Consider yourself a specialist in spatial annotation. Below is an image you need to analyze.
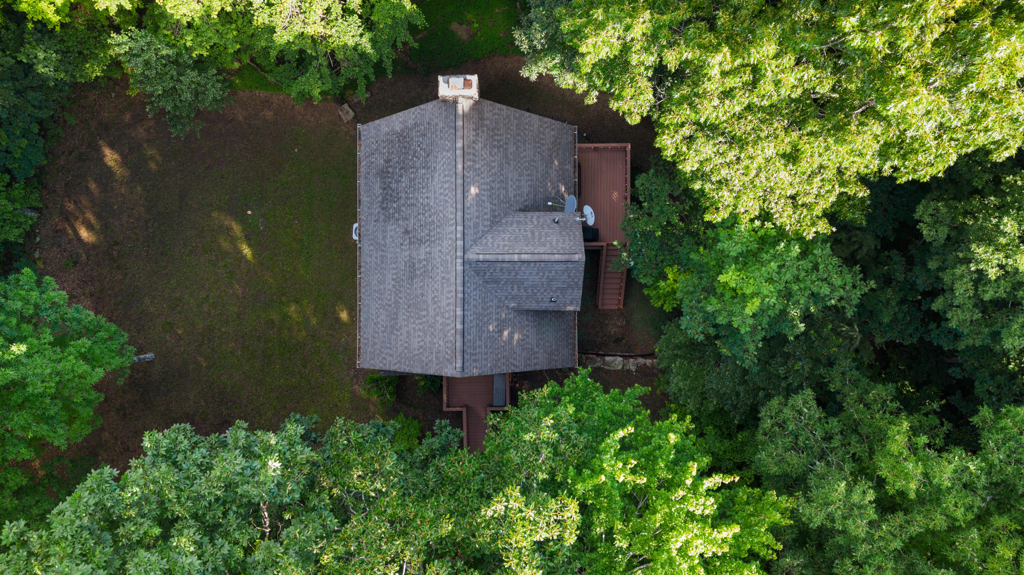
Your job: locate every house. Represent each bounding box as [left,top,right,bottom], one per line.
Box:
[357,74,585,378]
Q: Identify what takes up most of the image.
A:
trees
